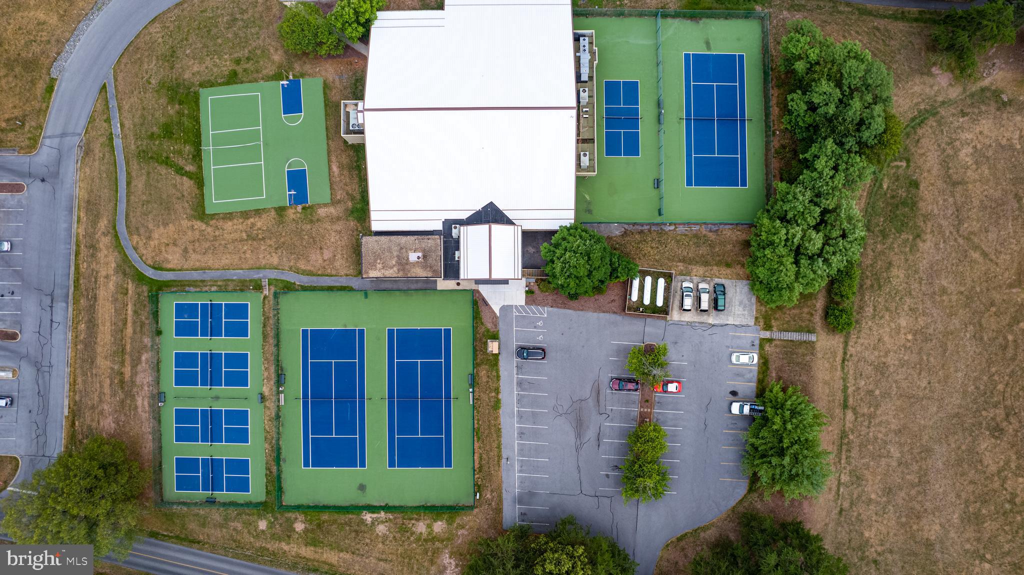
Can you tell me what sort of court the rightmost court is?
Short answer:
tennis court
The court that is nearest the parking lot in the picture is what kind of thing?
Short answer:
tennis court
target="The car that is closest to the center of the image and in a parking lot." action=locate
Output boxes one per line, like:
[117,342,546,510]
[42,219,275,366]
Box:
[517,347,545,361]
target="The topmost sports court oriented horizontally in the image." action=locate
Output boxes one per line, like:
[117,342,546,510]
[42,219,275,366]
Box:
[174,302,250,338]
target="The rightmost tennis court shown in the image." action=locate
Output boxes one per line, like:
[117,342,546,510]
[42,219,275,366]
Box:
[683,52,748,187]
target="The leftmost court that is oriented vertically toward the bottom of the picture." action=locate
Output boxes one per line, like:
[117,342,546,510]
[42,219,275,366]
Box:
[301,328,367,469]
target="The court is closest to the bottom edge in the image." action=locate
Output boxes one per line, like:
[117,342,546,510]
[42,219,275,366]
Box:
[174,457,251,494]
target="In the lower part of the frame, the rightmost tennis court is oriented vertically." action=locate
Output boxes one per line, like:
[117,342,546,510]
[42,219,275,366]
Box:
[386,328,453,469]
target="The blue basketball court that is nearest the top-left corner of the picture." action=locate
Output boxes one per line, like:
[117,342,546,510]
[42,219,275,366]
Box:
[280,79,303,124]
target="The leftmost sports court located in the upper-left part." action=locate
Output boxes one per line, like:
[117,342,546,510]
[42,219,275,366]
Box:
[209,93,265,202]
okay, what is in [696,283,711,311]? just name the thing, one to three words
car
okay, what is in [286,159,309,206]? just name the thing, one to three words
basketball court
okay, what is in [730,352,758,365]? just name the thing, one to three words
vehicle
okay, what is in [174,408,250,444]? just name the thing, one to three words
sports court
